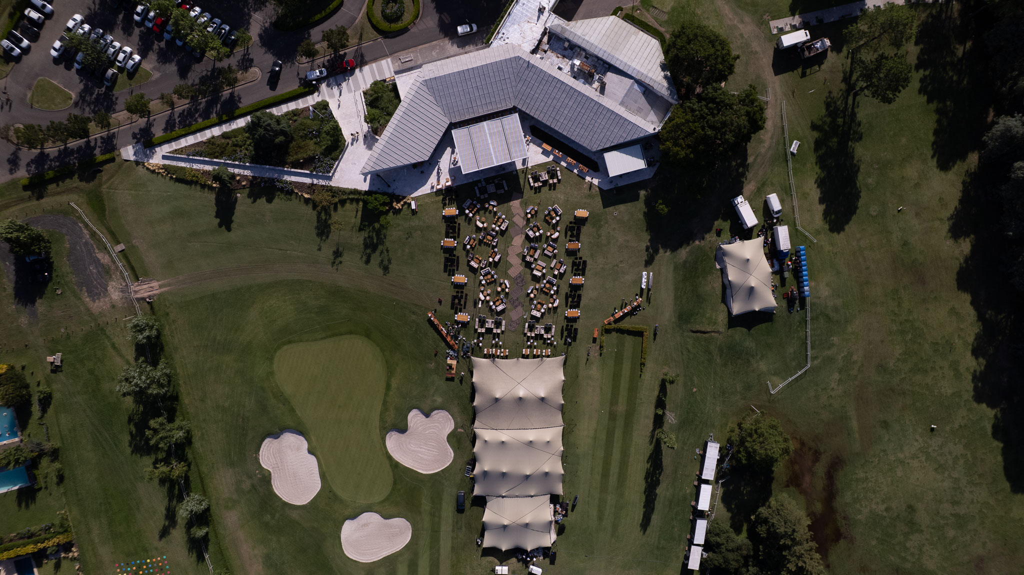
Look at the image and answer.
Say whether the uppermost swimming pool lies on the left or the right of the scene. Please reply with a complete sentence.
The uppermost swimming pool appears in the left half of the scene.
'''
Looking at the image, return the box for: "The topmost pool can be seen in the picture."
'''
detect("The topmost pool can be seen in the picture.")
[0,405,25,447]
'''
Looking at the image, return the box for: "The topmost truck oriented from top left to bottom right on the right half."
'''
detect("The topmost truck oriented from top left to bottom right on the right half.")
[728,193,758,230]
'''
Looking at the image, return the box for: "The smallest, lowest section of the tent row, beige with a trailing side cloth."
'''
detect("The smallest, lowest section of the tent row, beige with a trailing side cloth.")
[469,493,559,560]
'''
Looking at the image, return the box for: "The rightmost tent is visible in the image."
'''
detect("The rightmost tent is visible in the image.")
[715,225,786,324]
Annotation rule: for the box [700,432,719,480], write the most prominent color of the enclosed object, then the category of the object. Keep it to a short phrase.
white trailer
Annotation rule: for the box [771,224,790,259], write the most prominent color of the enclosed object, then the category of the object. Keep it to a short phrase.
white vehicle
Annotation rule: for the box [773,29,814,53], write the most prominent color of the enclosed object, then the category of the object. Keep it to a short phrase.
white truck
